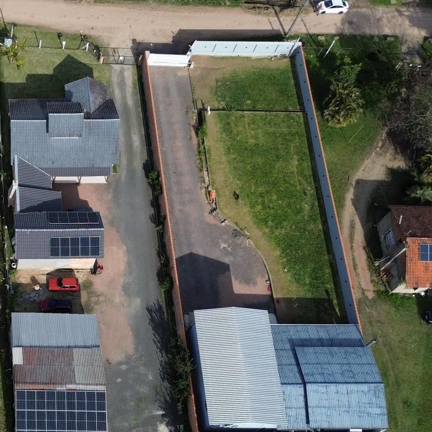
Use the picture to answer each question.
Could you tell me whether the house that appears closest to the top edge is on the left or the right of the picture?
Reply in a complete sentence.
It is on the left.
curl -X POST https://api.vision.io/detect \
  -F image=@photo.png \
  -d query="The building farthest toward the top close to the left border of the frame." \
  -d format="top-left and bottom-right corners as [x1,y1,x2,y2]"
[6,76,120,213]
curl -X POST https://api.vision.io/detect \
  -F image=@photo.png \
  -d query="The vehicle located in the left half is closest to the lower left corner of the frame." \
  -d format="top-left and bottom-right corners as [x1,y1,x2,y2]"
[39,295,74,313]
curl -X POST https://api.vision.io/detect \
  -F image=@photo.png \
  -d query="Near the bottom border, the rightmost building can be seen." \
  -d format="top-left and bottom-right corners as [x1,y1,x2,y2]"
[270,323,387,432]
